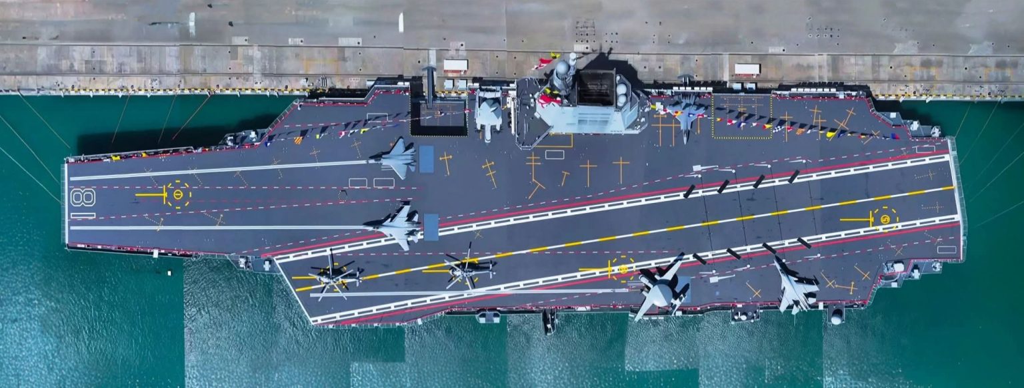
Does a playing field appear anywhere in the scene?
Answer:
No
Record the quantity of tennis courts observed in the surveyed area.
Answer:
none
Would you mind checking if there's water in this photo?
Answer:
Yes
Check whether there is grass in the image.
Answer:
No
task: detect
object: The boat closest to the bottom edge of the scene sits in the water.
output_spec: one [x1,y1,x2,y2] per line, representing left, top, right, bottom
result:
[543,310,556,336]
